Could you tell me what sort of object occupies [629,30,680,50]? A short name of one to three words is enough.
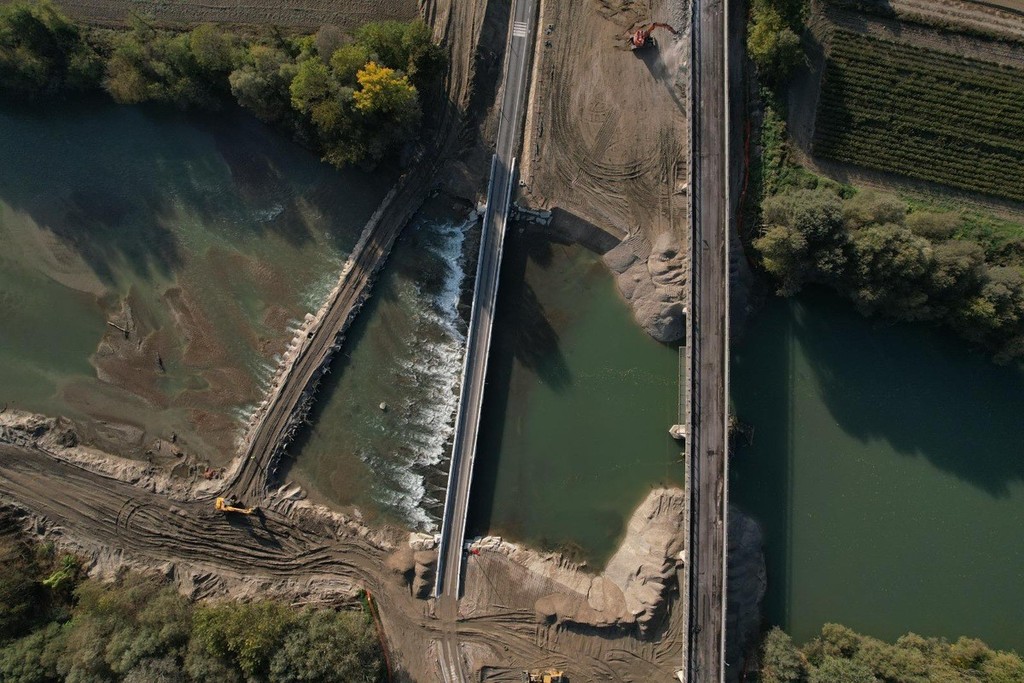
work vehicle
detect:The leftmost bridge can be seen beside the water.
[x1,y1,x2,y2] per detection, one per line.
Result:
[435,153,515,603]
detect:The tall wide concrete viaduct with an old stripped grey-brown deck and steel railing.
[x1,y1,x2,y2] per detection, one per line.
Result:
[668,0,731,683]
